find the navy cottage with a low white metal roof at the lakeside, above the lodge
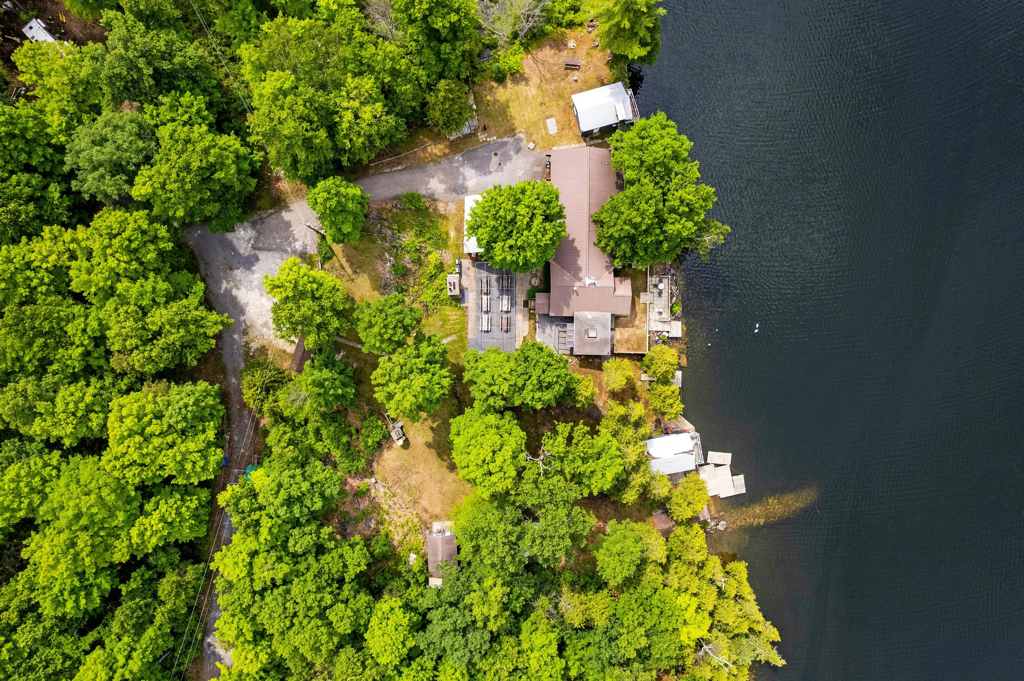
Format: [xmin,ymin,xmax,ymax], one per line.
[571,81,632,135]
